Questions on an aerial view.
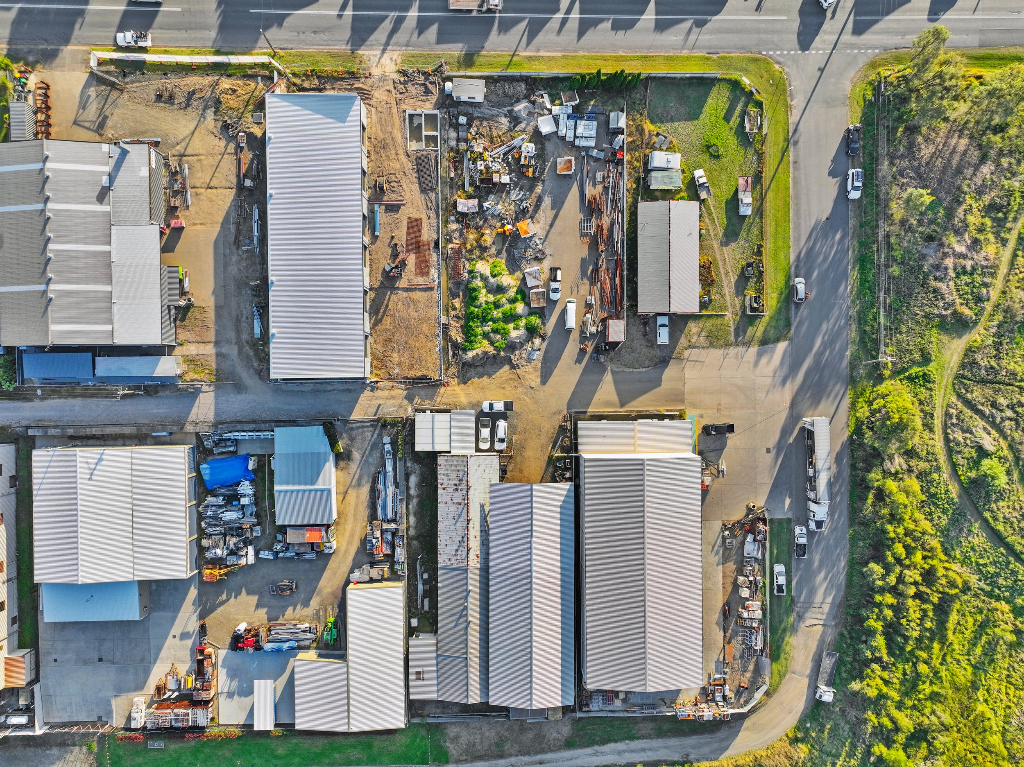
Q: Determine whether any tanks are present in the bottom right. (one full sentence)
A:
No, I can find no tank in the bottom right.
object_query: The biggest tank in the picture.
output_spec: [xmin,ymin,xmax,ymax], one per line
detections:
[406,109,440,150]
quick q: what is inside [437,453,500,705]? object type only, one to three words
shed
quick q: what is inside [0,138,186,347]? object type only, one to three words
warehouse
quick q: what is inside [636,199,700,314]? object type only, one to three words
shed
